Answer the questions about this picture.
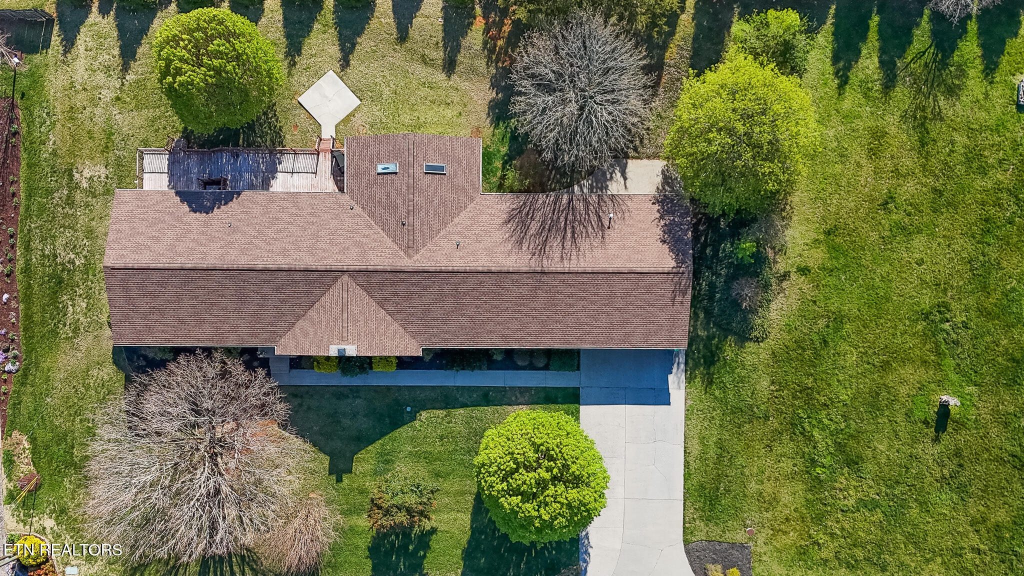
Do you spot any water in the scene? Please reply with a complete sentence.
No, water can't be seen anywhere here.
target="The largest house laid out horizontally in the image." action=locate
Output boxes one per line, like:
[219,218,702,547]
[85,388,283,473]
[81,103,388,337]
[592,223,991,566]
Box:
[101,132,692,357]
